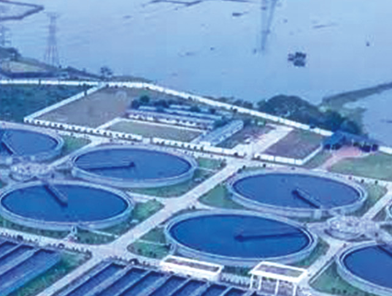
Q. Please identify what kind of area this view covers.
industrial area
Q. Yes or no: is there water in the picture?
Yes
